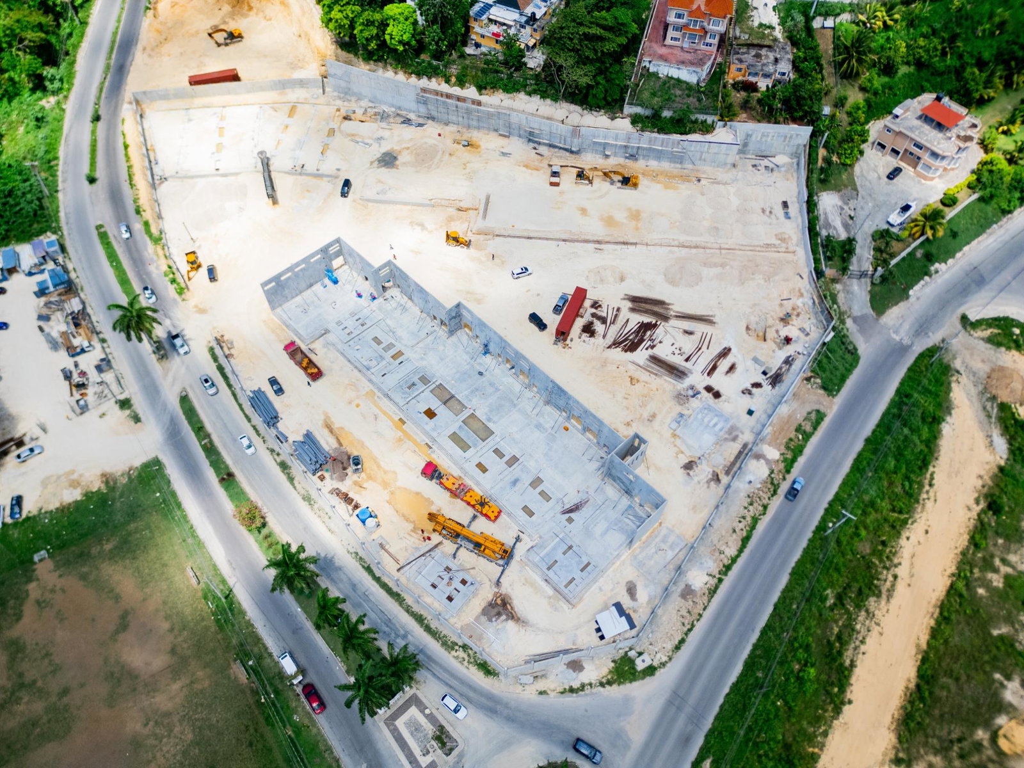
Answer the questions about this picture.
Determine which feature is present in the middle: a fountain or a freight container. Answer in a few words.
freight container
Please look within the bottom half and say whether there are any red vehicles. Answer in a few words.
Yes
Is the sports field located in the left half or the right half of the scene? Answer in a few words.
left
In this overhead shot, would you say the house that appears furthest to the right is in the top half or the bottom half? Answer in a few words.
top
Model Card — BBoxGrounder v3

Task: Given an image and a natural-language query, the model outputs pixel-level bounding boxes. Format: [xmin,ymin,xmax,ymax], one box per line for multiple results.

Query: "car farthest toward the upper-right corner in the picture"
[887,164,904,178]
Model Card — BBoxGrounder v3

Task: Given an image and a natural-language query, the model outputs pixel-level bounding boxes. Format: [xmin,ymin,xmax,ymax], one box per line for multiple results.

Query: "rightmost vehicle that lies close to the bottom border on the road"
[572,734,604,765]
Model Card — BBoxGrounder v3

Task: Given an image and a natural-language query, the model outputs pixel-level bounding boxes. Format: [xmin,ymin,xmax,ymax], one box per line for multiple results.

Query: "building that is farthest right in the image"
[874,92,984,178]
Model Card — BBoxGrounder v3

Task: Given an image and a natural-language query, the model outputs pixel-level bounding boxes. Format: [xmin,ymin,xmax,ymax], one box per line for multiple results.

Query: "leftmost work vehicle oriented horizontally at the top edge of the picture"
[211,25,245,43]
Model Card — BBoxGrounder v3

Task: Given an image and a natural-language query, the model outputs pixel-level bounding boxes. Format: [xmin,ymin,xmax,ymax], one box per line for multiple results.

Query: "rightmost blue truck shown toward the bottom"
[786,474,807,501]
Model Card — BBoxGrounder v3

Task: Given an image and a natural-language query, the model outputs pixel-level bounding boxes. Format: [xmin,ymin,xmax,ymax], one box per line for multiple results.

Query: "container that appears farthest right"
[556,285,588,342]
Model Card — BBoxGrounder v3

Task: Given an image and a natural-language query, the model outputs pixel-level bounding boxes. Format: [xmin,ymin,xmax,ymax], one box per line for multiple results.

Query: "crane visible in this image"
[422,518,523,588]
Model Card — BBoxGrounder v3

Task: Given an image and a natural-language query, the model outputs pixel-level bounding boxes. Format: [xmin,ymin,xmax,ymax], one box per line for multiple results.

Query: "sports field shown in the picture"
[0,459,327,768]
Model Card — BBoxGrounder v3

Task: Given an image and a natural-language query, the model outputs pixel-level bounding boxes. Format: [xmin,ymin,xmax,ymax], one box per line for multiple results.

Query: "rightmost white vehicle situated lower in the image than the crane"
[440,691,468,720]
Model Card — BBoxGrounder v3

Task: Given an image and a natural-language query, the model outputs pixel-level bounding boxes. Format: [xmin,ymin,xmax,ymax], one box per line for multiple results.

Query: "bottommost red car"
[299,680,326,716]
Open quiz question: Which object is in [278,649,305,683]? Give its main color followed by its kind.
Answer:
white vehicle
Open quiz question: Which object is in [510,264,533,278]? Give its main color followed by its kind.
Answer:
white car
